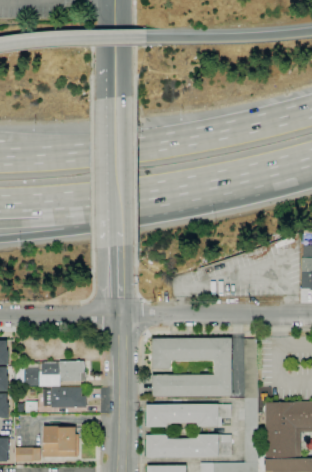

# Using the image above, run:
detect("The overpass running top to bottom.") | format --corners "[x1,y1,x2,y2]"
[90,96,138,245]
